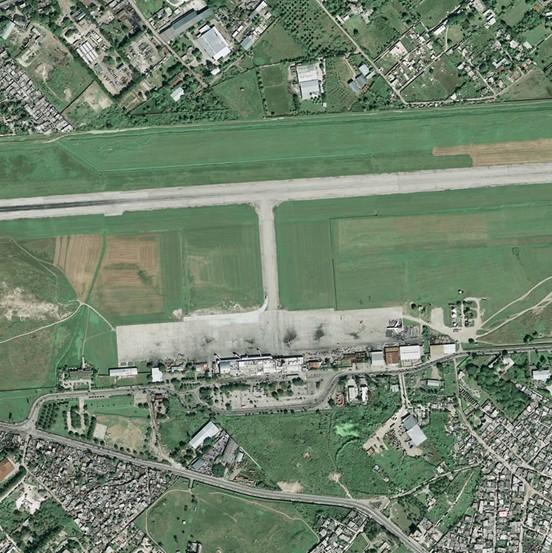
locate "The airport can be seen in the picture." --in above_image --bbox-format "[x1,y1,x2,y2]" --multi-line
[0,163,552,362]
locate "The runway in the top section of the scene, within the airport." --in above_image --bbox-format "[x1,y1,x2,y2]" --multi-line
[0,163,552,220]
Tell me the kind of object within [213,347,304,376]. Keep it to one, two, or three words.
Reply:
building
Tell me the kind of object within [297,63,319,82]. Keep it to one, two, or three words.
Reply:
building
